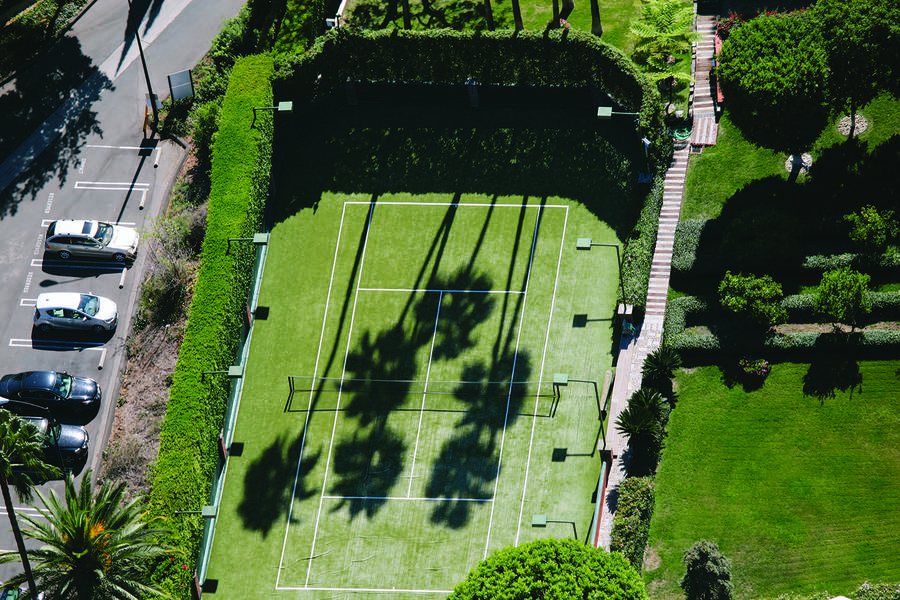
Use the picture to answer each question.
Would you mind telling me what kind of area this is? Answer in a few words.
sports ground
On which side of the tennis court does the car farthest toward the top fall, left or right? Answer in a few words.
to the left of it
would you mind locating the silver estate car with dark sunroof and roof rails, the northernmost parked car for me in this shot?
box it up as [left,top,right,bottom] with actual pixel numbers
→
[44,216,142,261]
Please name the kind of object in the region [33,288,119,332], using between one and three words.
car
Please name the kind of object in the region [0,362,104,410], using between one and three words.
car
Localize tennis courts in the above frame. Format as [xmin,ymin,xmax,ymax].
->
[204,102,635,600]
